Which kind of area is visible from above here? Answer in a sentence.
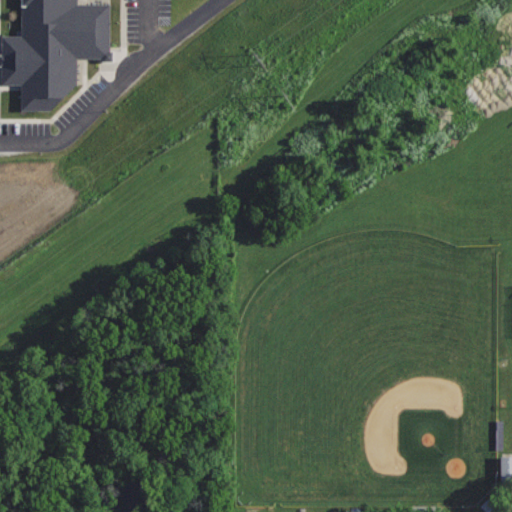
What you see here is a sports ground.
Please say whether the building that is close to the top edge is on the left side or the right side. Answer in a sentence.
The building that is close to the top edge is on the left side of the image.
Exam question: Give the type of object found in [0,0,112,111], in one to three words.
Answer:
building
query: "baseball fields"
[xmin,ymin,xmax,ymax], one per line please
[238,232,497,505]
